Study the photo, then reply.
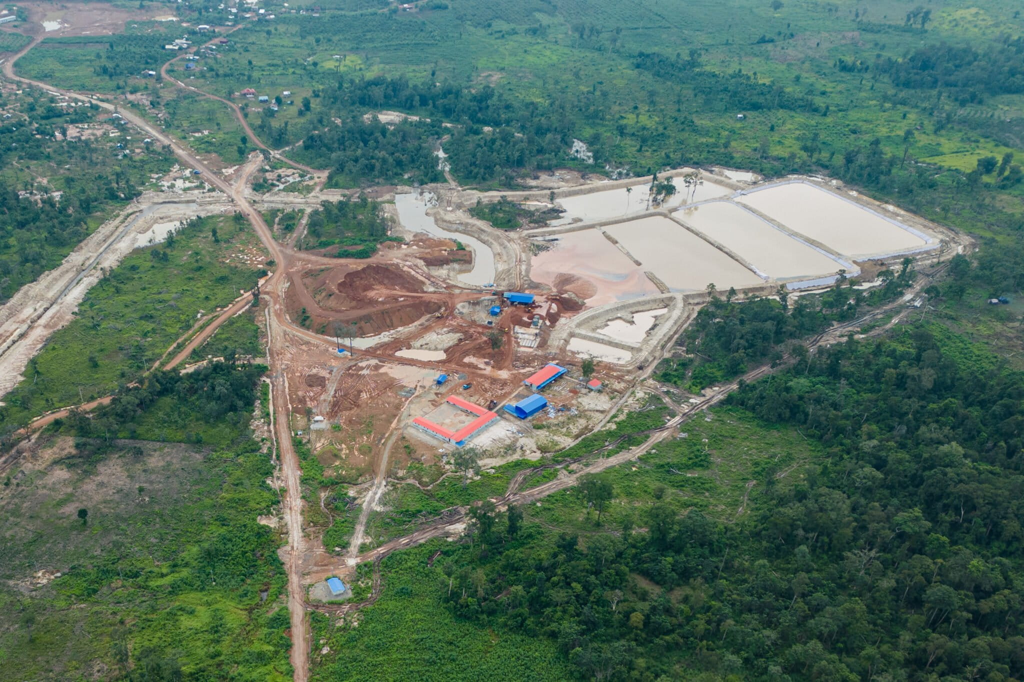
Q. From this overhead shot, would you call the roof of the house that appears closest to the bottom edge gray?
No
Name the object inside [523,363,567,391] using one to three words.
building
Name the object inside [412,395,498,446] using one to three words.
building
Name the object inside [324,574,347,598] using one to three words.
house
